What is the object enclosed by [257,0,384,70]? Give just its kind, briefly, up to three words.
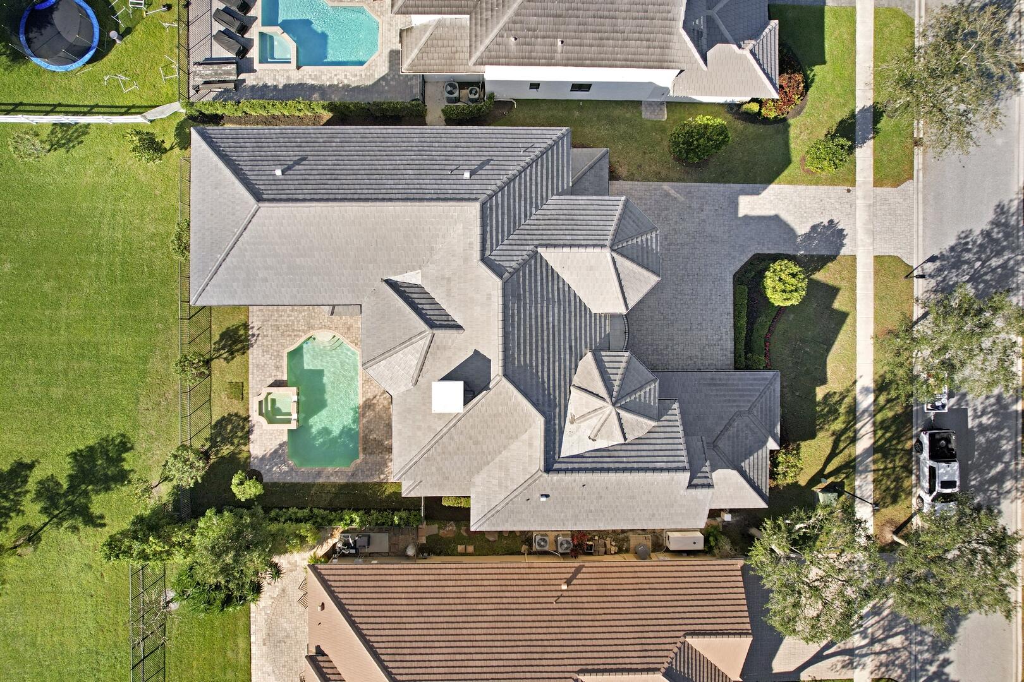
swimming pool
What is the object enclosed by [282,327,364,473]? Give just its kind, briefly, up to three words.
swimming pool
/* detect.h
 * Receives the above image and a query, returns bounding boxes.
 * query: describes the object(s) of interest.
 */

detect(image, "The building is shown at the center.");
[188,125,782,532]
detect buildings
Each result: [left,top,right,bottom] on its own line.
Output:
[389,0,781,103]
[304,553,753,682]
[188,125,782,532]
